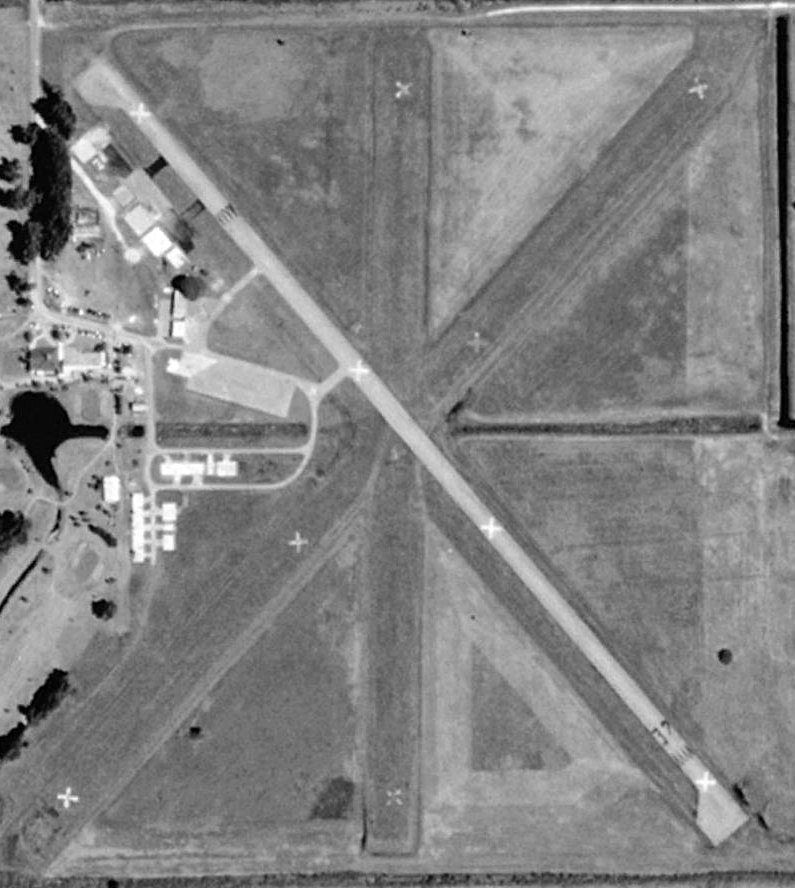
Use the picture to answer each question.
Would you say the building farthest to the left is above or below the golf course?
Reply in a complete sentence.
In the image, the building farthest to the left sits above the golf course.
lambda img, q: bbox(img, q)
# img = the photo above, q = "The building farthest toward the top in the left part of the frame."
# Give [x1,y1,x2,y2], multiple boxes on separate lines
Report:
[71,138,96,162]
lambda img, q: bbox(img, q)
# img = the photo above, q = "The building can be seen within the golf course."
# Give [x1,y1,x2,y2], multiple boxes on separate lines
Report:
[103,475,120,502]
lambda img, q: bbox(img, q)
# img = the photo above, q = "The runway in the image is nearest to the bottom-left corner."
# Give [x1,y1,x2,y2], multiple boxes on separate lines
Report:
[2,431,390,866]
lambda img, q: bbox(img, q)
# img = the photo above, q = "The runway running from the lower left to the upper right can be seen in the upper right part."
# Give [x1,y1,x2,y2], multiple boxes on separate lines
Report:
[405,29,762,414]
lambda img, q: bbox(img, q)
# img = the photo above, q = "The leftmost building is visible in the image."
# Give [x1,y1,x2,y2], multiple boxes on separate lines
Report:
[30,348,56,370]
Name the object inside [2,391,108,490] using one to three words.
pond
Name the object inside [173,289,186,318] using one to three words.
building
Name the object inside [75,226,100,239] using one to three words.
house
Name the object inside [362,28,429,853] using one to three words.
runway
